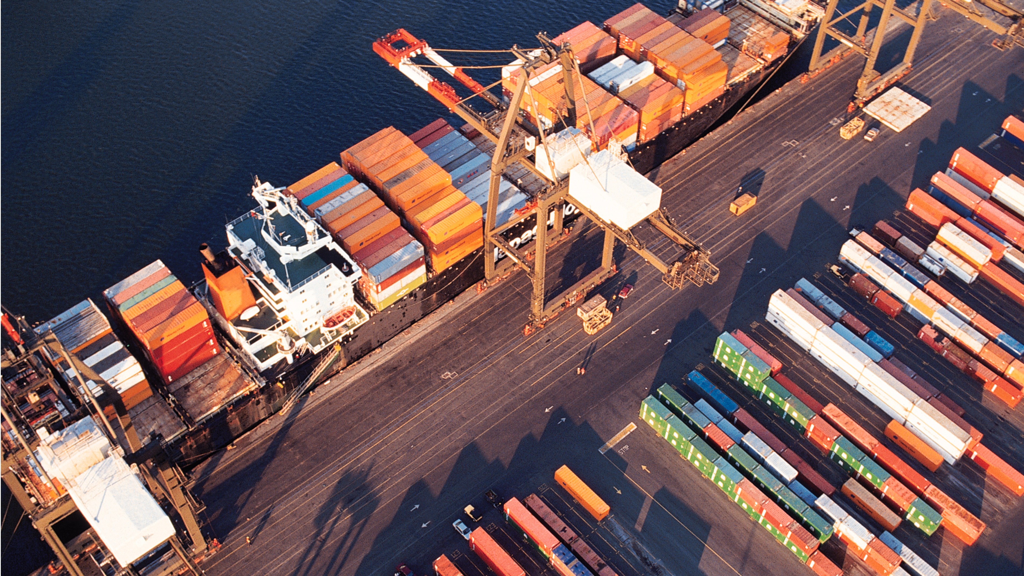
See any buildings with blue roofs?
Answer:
No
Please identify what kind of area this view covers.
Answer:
port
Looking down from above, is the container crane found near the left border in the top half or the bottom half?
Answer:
bottom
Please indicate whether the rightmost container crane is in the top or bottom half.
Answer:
top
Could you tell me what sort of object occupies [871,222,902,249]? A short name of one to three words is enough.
shipping container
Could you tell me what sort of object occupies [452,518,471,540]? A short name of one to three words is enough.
car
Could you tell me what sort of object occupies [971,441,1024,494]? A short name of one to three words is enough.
shipping container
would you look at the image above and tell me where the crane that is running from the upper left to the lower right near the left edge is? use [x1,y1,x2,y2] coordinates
[0,290,224,576]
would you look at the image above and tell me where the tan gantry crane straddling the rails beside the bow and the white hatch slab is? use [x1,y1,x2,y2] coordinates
[794,0,1024,118]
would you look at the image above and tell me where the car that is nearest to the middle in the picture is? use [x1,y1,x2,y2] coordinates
[618,282,636,298]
